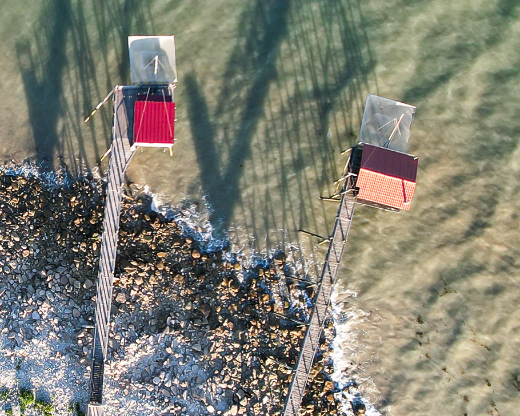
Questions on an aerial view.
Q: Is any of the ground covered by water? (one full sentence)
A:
Yes, there's water in this view.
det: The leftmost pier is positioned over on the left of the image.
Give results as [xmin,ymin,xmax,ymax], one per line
[81,80,182,416]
